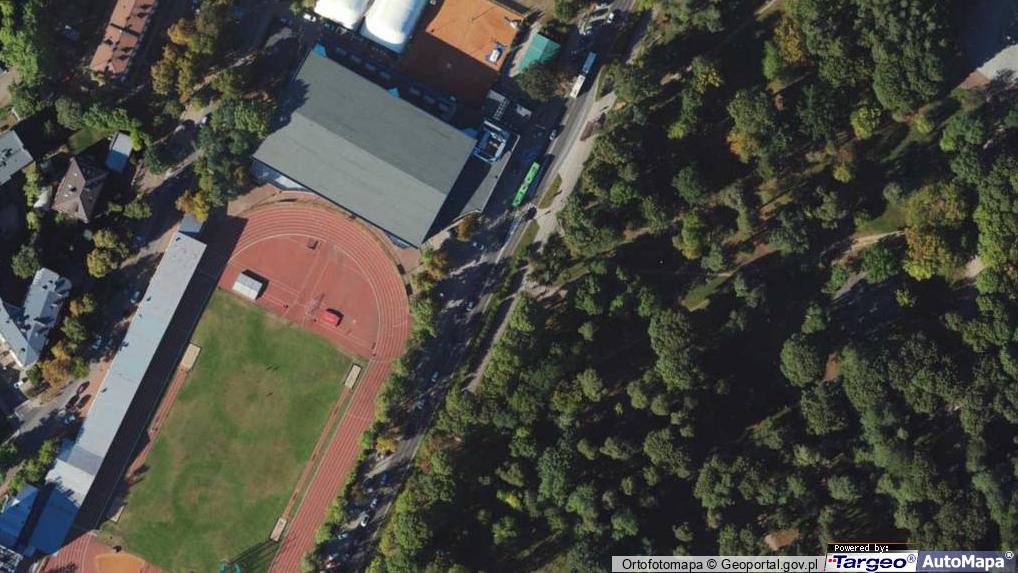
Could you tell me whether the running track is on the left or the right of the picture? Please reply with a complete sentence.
The running track sits on the left side.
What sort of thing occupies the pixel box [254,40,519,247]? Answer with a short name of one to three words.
building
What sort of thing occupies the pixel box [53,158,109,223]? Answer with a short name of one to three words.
house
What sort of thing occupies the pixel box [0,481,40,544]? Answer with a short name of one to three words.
building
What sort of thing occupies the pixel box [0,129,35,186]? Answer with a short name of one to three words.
house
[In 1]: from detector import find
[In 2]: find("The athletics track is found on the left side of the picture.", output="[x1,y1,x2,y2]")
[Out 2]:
[61,208,408,573]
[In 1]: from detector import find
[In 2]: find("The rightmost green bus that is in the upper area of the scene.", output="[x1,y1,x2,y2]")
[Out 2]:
[512,161,540,207]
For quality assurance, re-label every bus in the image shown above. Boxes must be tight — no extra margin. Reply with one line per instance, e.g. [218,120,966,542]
[512,161,540,207]
[571,52,596,98]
